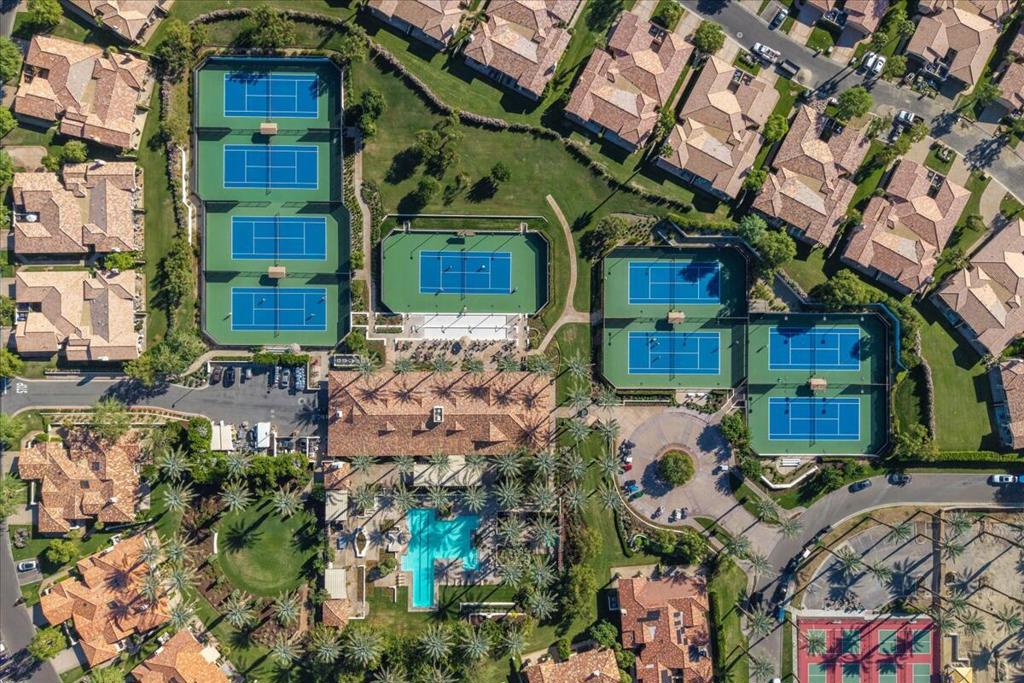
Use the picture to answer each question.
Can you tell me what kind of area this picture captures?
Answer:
residential area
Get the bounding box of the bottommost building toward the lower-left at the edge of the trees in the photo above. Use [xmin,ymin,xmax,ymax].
[128,628,260,683]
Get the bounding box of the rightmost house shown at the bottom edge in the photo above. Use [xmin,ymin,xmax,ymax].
[615,577,713,683]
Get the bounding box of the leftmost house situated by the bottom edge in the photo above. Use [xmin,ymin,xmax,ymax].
[39,532,174,667]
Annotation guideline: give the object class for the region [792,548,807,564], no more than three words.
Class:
car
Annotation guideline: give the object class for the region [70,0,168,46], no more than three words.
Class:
house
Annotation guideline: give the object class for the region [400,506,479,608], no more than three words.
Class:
swimming pool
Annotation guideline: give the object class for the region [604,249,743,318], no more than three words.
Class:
tennis court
